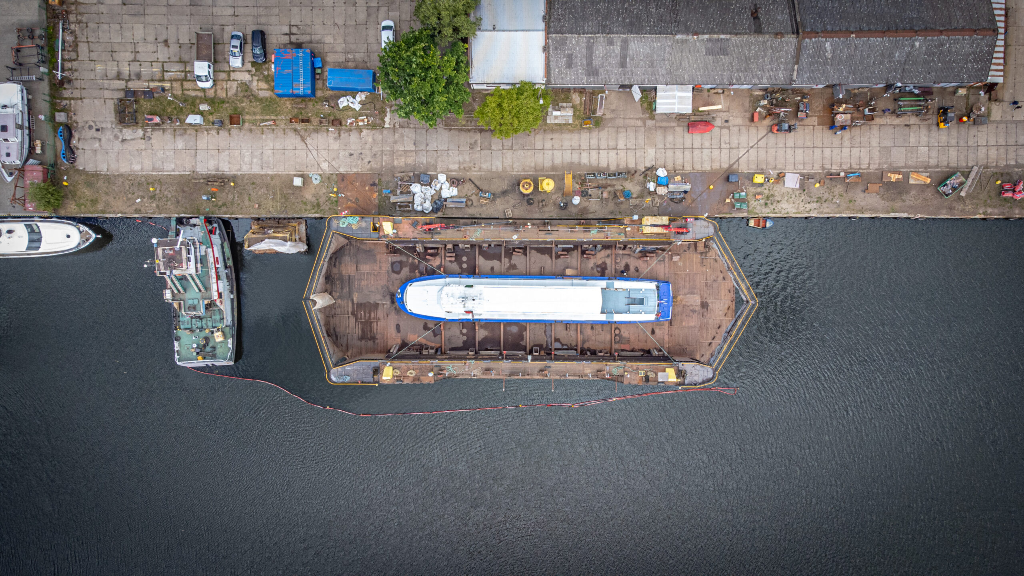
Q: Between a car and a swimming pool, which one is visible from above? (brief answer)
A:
car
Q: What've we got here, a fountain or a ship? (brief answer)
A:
ship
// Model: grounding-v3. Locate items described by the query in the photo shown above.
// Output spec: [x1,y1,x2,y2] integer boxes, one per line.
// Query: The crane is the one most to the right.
[570,222,701,236]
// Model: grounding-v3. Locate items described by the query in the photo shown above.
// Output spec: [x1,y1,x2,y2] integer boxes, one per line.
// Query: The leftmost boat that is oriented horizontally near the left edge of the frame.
[0,218,102,258]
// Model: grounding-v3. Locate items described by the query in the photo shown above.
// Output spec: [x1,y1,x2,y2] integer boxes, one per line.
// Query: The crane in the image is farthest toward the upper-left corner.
[409,217,534,237]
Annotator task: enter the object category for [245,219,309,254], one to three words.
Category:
pier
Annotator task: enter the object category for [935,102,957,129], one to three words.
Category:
work vehicle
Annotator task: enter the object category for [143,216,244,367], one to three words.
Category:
ship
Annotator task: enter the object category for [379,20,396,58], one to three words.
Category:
car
